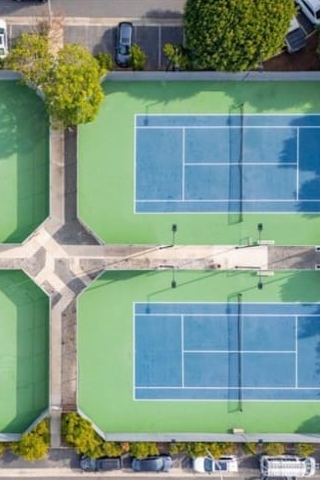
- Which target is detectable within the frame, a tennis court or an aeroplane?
tennis court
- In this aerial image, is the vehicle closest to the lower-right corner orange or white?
white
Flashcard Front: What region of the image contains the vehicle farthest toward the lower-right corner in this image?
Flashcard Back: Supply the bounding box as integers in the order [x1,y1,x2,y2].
[259,456,316,480]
